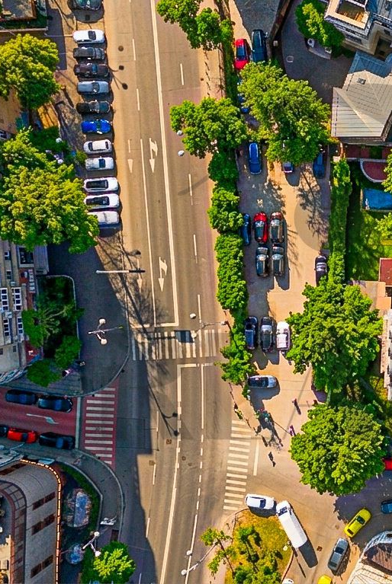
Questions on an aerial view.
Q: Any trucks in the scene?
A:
Yes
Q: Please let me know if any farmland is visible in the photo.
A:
No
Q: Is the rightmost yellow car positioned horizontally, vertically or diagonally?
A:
diagonally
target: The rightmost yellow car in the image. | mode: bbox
[345,508,369,537]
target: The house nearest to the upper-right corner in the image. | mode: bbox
[325,0,392,59]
